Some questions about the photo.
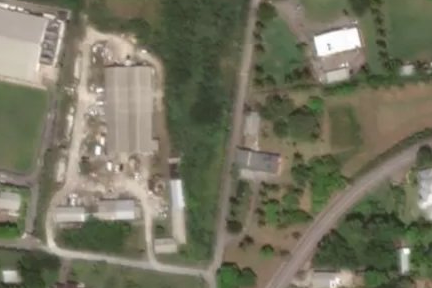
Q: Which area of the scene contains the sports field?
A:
left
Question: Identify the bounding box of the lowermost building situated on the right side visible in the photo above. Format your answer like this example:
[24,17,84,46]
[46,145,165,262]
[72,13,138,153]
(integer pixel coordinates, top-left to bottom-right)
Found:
[313,271,340,288]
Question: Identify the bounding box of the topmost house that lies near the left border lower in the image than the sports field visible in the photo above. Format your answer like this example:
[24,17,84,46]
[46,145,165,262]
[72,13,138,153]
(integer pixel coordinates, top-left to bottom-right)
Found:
[0,193,20,211]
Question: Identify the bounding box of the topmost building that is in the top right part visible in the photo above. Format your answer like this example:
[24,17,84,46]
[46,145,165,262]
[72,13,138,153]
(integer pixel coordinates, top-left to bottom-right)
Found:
[314,28,361,56]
